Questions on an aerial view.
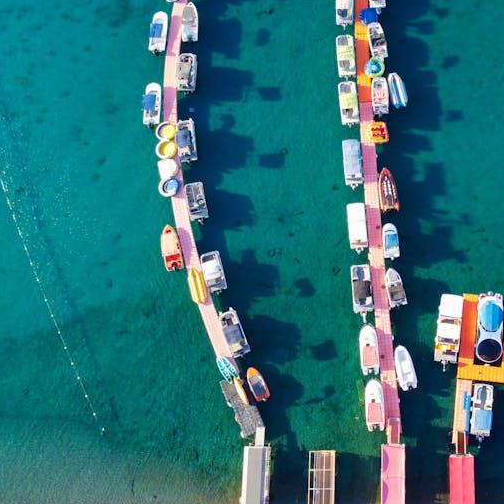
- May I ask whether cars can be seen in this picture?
No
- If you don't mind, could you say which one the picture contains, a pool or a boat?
boat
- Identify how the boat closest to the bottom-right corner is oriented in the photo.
up and down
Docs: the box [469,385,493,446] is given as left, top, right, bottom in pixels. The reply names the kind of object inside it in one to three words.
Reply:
boat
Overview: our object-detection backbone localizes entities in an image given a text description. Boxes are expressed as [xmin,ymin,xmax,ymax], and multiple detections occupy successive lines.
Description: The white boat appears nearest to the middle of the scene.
[198,252,227,301]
